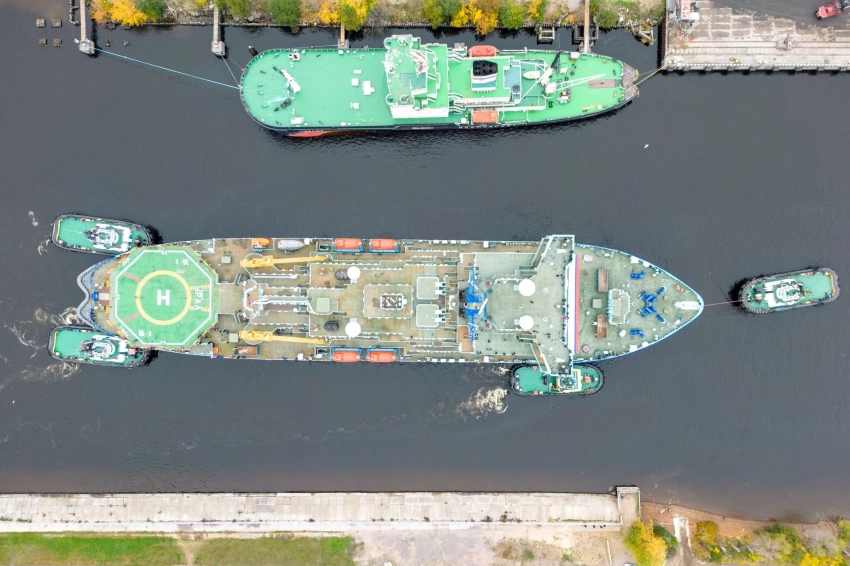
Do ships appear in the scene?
Yes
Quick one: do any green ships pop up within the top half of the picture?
Yes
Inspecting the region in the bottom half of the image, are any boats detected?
Yes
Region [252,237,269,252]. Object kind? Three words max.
boat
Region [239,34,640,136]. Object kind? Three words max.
ship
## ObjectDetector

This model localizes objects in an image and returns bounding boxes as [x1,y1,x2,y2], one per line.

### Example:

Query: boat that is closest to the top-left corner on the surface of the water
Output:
[46,212,149,253]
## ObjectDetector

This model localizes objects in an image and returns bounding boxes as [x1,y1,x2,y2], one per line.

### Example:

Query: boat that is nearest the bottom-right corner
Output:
[743,267,846,311]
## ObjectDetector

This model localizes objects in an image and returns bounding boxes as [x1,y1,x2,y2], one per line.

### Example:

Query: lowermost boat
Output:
[512,365,606,398]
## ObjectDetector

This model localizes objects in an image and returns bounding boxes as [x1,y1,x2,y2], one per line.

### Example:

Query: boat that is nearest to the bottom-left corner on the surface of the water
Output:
[42,327,144,368]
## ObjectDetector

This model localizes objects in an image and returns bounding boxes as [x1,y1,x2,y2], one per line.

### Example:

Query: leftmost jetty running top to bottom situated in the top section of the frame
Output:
[75,0,100,59]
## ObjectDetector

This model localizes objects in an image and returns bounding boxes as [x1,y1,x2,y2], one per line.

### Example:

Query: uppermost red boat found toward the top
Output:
[468,43,498,56]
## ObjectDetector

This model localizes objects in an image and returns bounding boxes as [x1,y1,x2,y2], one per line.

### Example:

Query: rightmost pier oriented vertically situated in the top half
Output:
[574,0,596,52]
